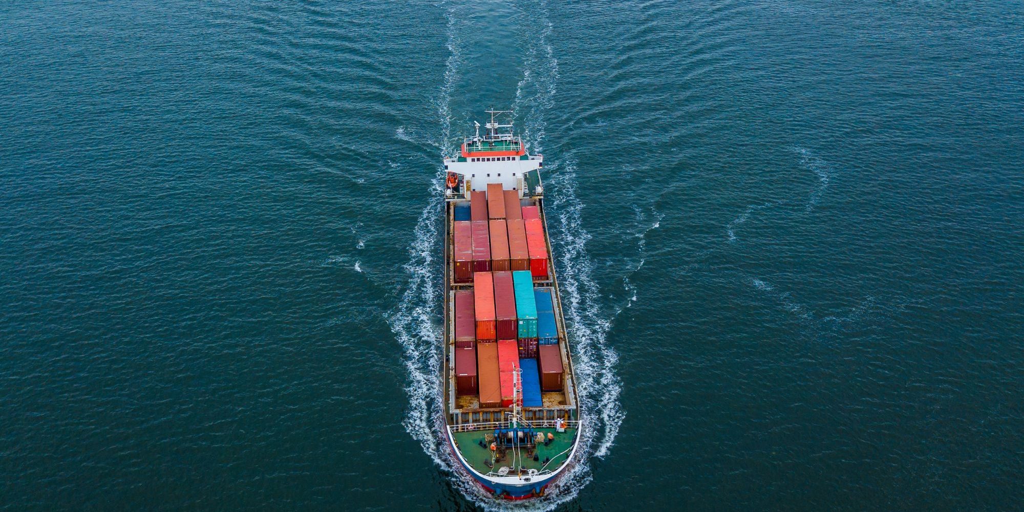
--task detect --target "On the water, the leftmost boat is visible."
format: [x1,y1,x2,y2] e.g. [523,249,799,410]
[445,172,460,188]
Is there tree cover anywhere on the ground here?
No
